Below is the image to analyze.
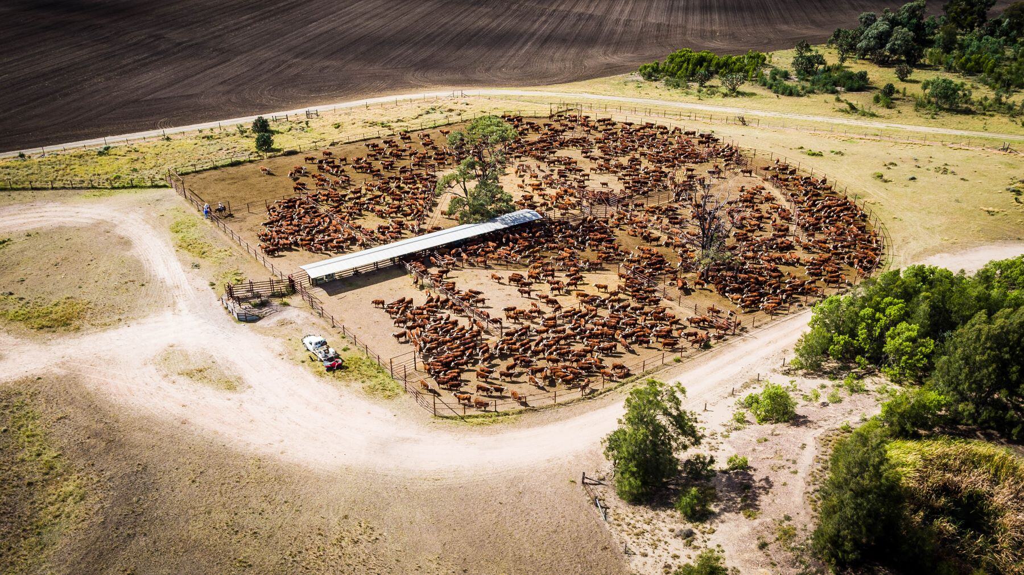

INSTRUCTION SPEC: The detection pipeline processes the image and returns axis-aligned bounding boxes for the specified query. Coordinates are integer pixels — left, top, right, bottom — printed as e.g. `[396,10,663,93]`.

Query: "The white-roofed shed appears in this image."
[302,208,542,293]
